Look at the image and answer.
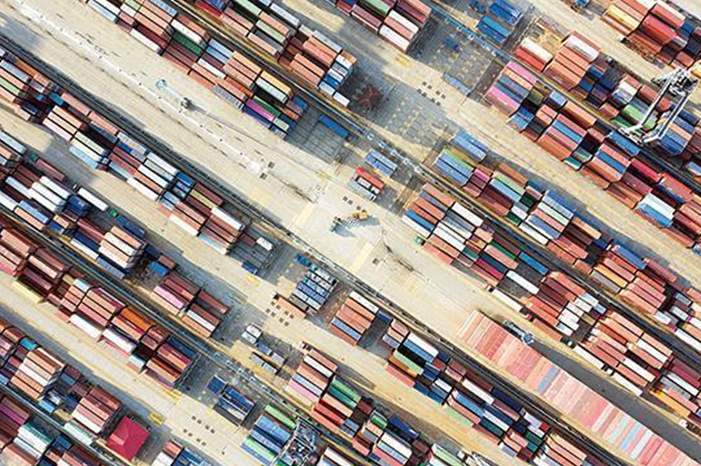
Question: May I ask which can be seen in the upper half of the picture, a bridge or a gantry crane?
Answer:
gantry crane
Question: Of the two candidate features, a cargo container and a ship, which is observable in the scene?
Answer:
cargo container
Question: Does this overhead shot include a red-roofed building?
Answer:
Yes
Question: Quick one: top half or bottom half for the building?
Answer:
bottom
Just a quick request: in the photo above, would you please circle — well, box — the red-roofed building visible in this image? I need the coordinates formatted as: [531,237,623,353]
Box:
[107,412,155,459]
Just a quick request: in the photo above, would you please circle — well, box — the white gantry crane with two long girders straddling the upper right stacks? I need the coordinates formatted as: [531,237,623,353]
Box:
[618,55,701,148]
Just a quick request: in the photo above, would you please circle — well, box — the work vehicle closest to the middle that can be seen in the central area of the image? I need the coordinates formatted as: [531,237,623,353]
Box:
[331,209,372,232]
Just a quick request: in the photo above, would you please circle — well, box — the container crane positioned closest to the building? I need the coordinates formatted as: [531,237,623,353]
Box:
[263,414,326,466]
